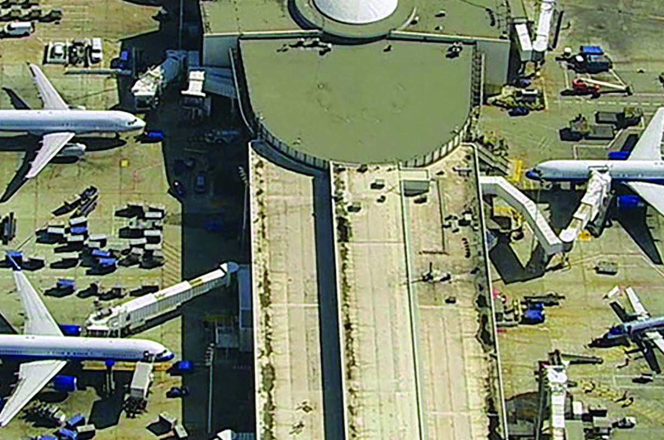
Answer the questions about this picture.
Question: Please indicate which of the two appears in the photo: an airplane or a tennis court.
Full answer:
Looking from above, you can make out an airplane.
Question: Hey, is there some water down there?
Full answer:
No, the scene doesn't show any water.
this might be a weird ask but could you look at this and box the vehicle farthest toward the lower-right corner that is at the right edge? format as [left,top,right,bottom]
[614,417,644,434]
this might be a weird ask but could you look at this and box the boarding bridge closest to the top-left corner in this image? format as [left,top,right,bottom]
[130,47,200,111]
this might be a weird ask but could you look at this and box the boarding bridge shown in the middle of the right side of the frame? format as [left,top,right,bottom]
[480,170,611,274]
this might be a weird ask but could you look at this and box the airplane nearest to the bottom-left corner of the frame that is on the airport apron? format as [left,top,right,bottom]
[0,259,174,421]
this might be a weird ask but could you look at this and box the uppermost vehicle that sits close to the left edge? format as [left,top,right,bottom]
[6,23,33,37]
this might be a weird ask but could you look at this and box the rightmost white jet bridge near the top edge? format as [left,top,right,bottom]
[510,0,561,81]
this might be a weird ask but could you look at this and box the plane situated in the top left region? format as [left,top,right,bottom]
[0,62,145,178]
